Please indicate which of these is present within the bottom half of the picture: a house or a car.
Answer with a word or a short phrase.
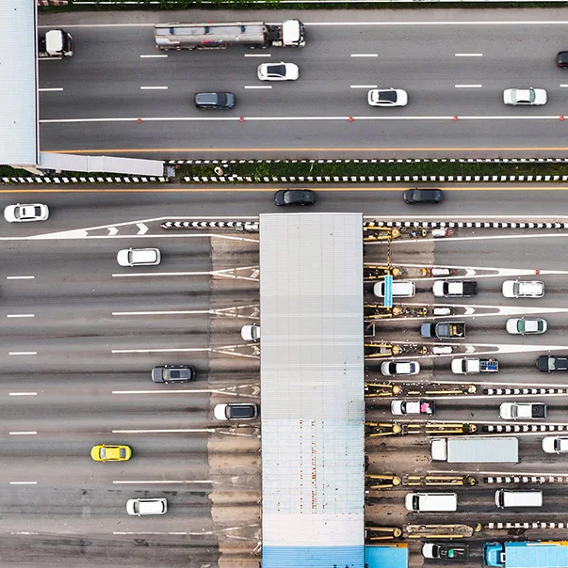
car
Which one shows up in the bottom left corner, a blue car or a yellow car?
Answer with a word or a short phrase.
yellow car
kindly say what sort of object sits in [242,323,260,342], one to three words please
car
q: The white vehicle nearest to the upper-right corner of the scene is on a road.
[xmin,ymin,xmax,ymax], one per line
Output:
[502,86,547,107]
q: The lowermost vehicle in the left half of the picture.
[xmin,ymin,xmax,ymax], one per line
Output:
[127,497,169,516]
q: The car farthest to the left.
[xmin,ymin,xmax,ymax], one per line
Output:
[4,203,52,222]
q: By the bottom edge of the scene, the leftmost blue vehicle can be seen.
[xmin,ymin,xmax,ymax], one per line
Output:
[364,543,408,568]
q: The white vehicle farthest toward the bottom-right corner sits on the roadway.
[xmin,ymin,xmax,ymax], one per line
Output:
[494,487,543,507]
